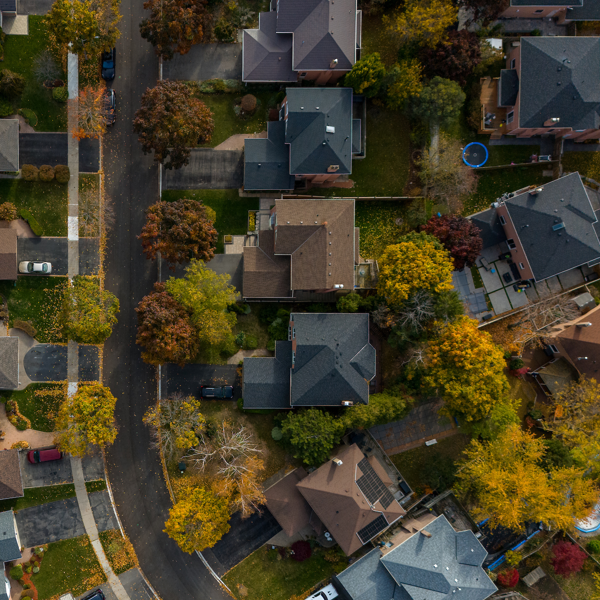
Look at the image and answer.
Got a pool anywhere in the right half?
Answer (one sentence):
Yes, looking in the right half, one can make out a pool.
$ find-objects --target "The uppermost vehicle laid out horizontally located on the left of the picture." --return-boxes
[19,260,52,274]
